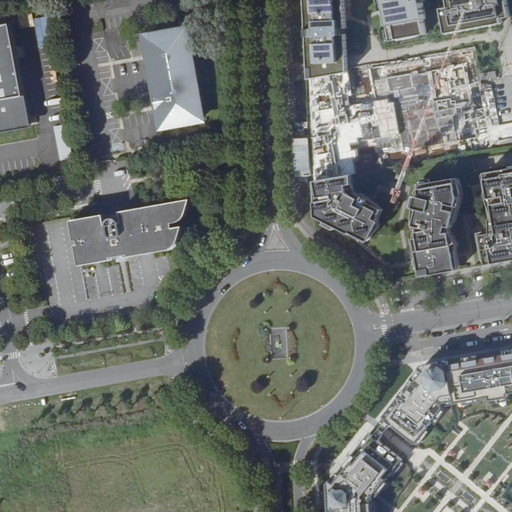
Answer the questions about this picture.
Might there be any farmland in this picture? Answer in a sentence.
No, no farmland is visible.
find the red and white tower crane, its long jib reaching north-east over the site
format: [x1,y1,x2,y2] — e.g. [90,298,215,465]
[395,0,470,196]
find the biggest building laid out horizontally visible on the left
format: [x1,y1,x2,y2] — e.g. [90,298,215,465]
[67,199,187,266]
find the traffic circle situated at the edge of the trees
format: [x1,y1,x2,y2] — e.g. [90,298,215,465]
[185,250,376,441]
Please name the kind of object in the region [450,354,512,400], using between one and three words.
building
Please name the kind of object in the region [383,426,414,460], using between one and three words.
building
